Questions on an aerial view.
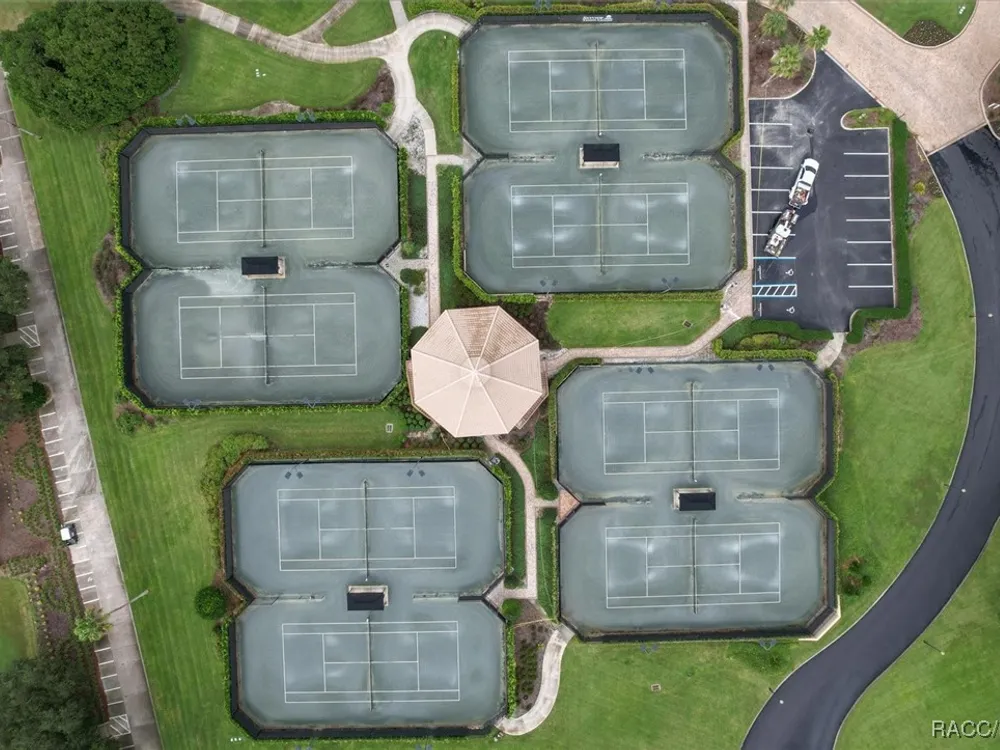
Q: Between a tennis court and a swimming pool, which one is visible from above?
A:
tennis court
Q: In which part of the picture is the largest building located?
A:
center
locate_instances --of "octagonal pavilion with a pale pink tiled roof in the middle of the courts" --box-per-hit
[406,305,548,438]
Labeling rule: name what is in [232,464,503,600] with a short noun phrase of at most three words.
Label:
tennis court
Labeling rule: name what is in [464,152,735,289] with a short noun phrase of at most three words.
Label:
tennis court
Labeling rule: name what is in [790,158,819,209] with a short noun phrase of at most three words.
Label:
truck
